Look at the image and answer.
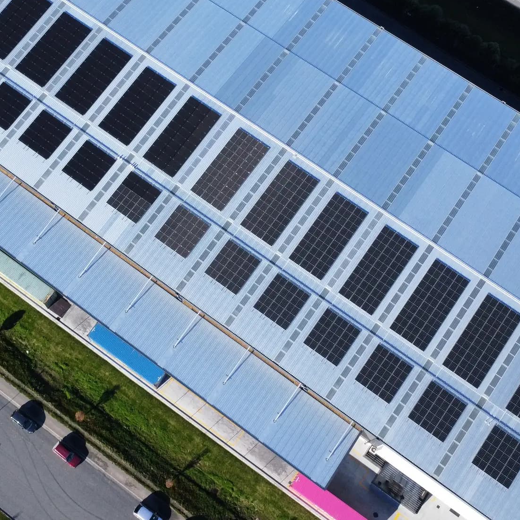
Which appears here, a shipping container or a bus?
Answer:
shipping container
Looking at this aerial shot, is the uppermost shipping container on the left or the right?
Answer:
left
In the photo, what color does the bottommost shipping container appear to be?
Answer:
pink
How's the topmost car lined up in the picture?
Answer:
at an angle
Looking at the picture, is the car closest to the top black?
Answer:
Yes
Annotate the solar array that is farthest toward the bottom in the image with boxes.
[473,425,520,490]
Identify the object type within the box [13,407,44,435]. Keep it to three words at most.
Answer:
car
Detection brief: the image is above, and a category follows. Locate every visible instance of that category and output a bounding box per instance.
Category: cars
[133,502,163,520]
[13,407,44,435]
[52,441,82,469]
